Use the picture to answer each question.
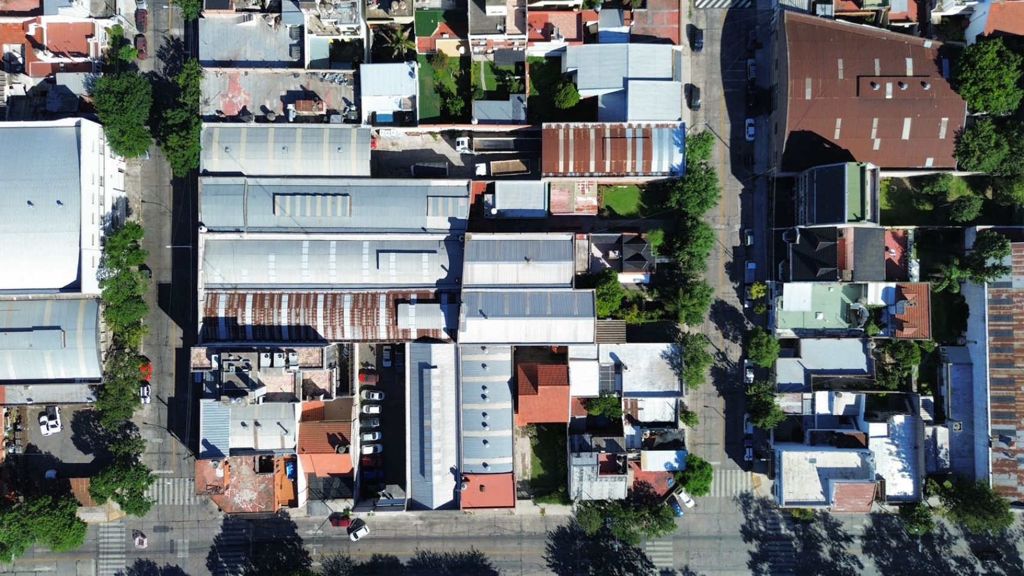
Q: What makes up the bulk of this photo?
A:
buildings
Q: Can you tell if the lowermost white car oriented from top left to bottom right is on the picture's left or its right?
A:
right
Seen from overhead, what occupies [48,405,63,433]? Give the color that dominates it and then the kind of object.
white vehicle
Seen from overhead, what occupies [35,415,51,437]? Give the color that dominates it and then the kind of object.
white car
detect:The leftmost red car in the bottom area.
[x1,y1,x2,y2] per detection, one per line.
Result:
[141,360,153,381]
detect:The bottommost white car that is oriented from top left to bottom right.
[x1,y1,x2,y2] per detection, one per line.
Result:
[675,487,695,510]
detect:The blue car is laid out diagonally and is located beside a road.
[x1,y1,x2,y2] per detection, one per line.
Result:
[667,497,684,518]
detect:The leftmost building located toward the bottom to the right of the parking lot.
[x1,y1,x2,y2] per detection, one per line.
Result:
[405,342,461,510]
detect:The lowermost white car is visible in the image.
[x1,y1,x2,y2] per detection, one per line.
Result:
[348,523,371,541]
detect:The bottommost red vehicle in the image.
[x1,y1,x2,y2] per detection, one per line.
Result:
[331,516,352,528]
